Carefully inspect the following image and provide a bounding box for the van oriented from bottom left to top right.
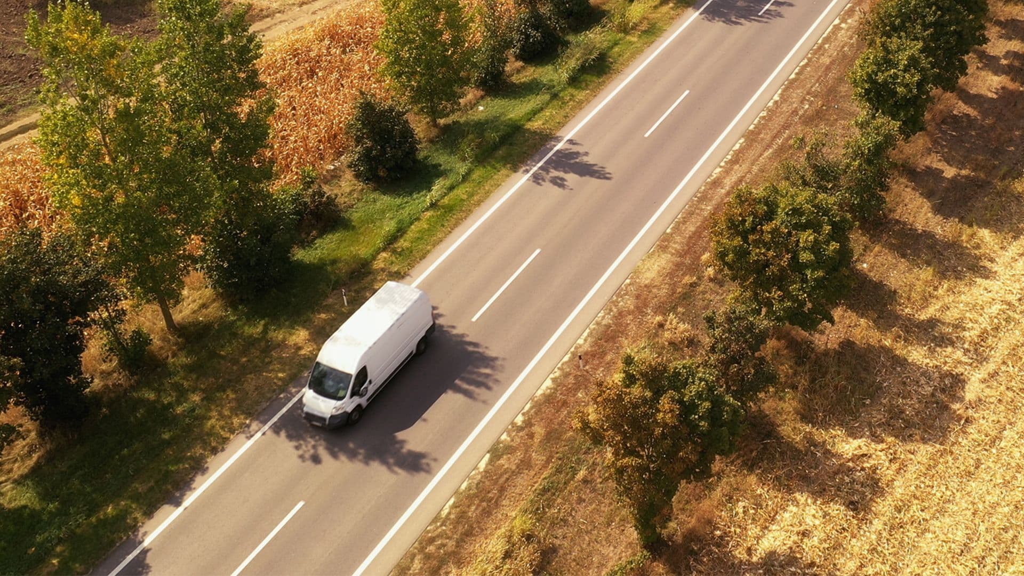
[296,279,436,434]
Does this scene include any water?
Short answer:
No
